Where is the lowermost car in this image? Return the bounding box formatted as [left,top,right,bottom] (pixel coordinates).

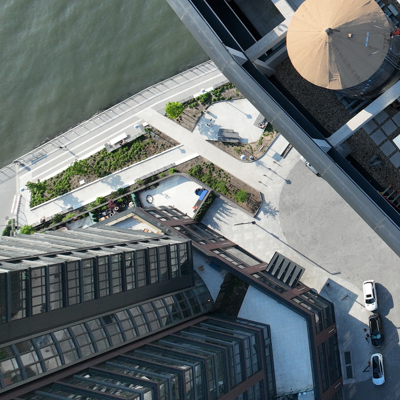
[371,351,386,386]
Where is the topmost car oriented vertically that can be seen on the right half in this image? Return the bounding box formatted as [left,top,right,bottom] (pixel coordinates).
[363,278,380,313]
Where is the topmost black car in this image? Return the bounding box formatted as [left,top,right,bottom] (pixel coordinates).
[369,313,386,348]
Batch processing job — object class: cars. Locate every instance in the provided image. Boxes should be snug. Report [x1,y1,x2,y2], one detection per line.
[363,278,380,313]
[369,313,386,348]
[298,155,326,184]
[371,351,386,386]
